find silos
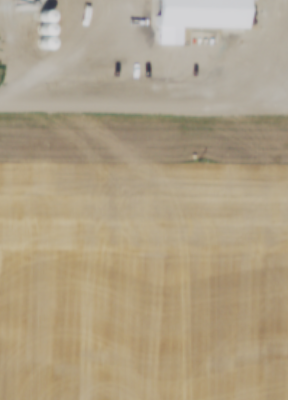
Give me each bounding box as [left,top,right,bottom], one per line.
[38,36,60,50]
[38,9,60,23]
[38,22,60,36]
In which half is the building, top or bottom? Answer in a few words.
top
